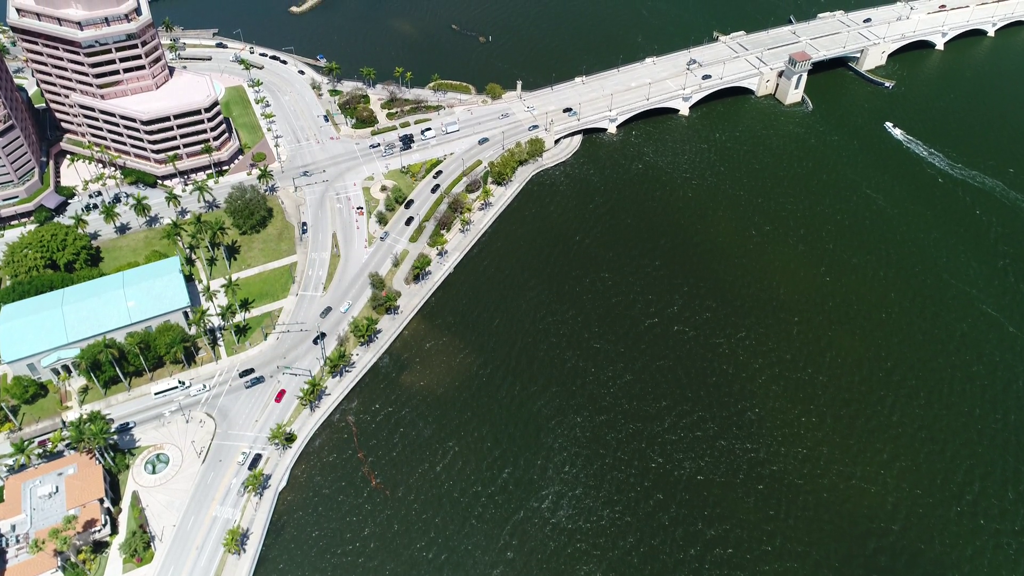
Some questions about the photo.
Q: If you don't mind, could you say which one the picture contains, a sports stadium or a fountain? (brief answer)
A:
fountain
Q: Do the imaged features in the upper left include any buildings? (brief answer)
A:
Yes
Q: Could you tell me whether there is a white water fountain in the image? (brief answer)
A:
Yes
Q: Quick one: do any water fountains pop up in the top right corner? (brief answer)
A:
No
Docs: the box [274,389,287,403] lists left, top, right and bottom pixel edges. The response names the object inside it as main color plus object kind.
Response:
red vehicle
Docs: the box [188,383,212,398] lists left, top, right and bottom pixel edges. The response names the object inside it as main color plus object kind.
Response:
white vehicle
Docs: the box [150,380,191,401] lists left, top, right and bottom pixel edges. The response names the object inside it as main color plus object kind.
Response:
white vehicle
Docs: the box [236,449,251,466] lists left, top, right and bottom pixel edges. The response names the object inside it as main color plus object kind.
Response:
white car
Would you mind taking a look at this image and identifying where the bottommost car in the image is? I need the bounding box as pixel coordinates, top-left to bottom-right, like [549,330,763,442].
[235,479,250,498]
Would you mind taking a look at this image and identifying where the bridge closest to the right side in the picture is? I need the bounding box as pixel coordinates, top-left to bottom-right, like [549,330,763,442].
[487,0,1024,167]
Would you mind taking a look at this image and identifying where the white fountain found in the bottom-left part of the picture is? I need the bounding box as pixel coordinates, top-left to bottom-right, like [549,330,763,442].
[132,443,183,488]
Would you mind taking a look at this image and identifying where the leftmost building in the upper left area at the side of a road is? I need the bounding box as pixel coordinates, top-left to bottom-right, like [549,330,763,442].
[0,77,65,224]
